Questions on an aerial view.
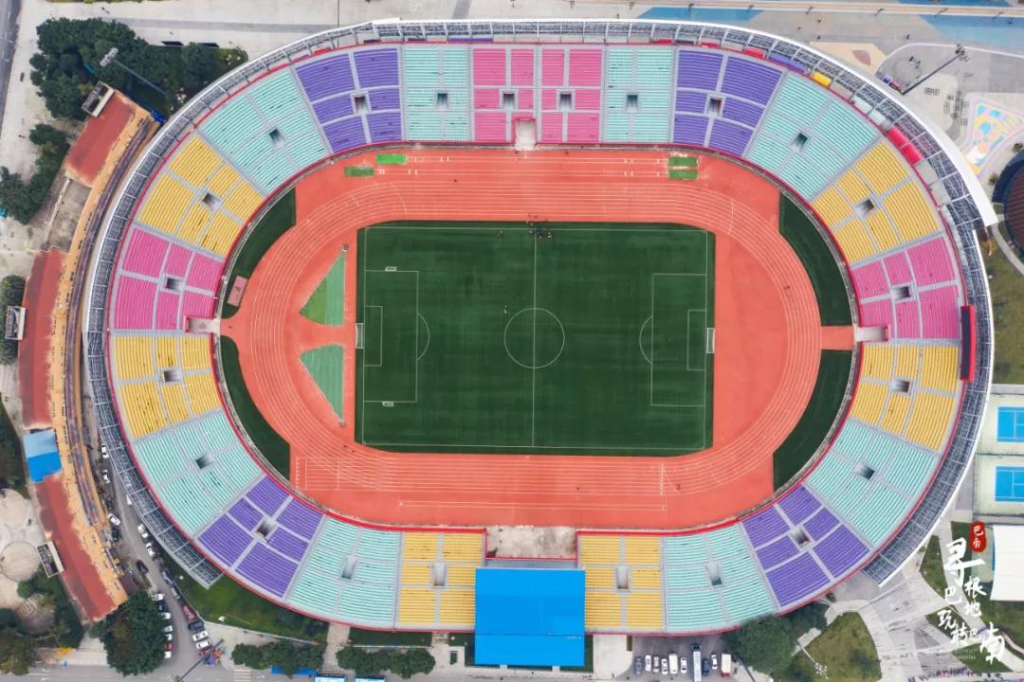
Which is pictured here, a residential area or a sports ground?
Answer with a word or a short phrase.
sports ground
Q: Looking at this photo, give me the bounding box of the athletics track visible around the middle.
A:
[219,149,854,528]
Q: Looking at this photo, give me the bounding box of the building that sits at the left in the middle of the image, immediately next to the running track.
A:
[5,81,159,623]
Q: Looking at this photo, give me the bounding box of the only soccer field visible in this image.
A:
[356,220,715,455]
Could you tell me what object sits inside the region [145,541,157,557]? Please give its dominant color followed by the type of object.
white vehicle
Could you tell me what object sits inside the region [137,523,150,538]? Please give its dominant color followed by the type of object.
white vehicle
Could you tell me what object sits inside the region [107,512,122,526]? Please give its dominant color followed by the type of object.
white car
